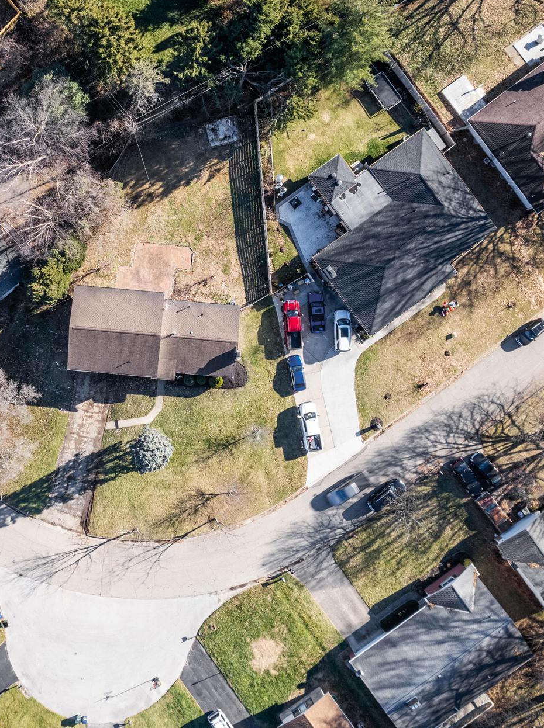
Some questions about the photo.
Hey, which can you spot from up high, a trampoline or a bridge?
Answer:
trampoline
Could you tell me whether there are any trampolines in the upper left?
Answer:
No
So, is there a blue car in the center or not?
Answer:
Yes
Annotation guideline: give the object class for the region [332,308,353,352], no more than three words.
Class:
car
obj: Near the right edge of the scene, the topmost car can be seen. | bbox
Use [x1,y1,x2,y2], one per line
[510,316,544,349]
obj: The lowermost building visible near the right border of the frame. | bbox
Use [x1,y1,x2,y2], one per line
[349,559,533,728]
